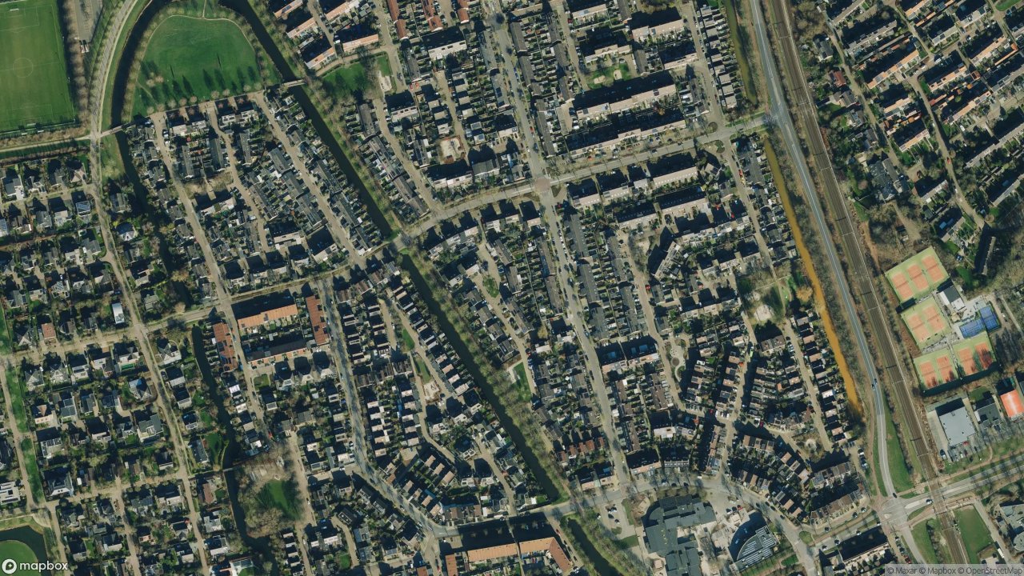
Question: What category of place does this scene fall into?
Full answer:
This image shows a residential area.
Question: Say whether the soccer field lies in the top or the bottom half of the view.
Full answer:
The top half of the photo is where the soccer field is.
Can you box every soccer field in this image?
[0,0,71,132]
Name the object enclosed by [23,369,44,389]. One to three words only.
house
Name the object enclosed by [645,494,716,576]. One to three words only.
building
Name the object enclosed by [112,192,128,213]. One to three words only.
house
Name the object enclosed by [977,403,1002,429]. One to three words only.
building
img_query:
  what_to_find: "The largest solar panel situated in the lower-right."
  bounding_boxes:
[743,529,775,567]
